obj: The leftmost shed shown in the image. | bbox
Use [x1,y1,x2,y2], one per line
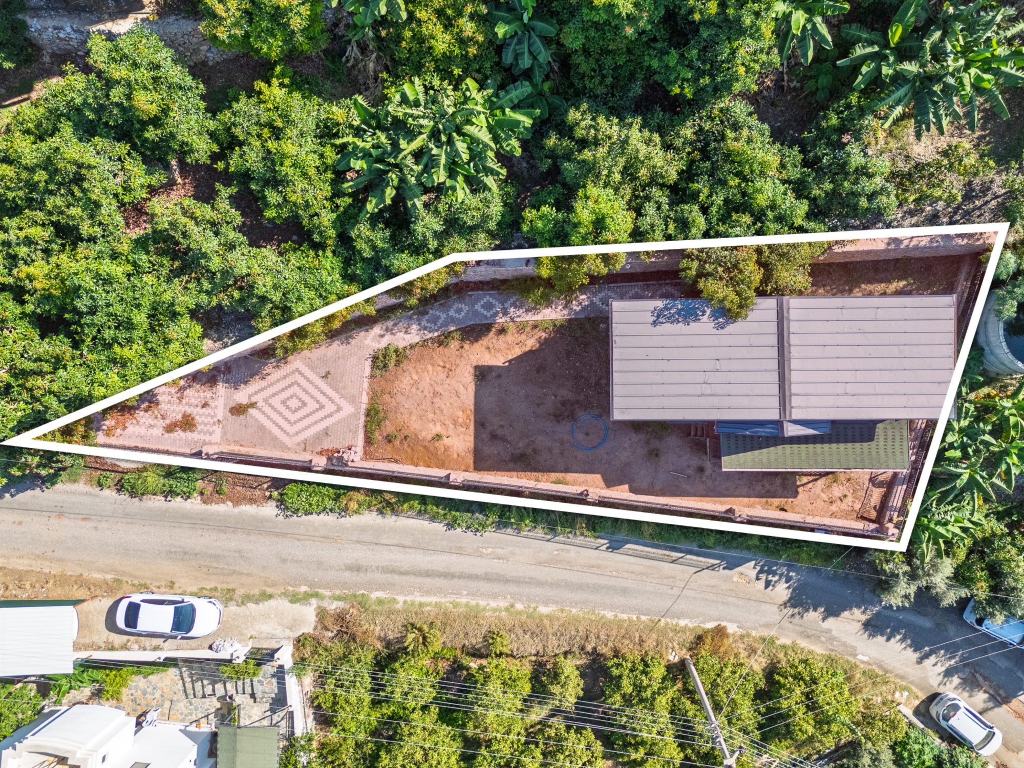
[0,595,98,676]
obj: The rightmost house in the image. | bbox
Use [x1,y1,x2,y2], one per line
[607,293,959,471]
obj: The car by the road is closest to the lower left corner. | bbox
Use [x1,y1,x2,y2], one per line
[115,589,228,648]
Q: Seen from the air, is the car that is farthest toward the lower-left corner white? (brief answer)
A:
Yes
